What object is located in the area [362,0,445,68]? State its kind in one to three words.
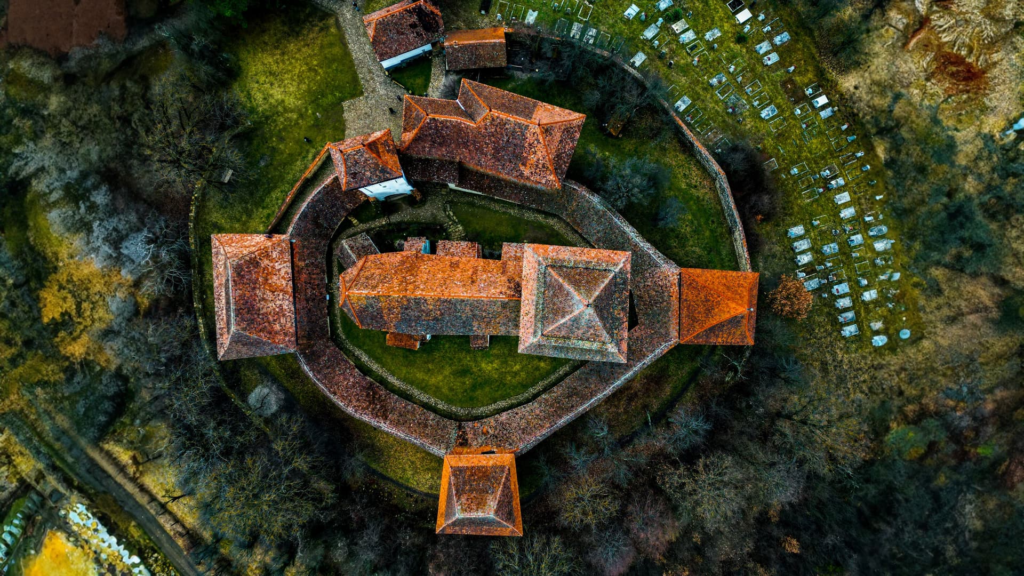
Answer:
house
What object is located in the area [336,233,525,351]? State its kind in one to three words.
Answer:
building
